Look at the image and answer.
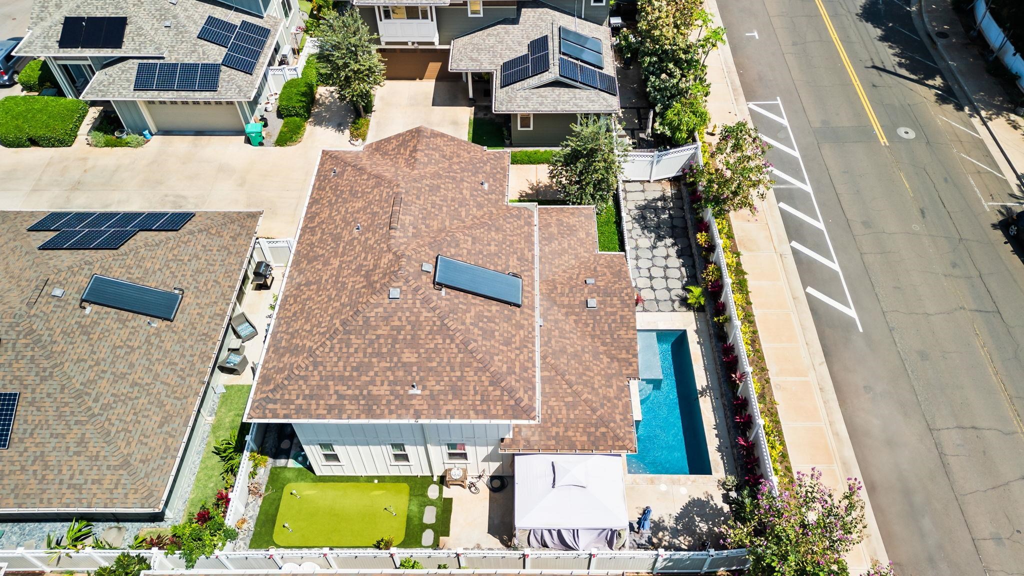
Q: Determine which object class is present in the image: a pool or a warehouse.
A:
pool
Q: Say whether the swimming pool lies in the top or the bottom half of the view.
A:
bottom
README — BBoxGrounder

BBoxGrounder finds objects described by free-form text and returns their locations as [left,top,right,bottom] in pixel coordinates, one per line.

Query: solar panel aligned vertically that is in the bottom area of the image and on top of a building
[0,392,22,446]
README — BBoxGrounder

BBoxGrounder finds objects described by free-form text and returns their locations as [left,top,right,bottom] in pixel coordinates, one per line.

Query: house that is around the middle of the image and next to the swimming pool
[240,124,645,482]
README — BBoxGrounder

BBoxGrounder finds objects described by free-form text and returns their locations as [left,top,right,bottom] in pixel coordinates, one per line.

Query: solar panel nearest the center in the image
[436,251,524,305]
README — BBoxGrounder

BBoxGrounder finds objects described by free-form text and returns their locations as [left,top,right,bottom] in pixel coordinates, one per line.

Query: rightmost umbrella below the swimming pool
[633,510,655,544]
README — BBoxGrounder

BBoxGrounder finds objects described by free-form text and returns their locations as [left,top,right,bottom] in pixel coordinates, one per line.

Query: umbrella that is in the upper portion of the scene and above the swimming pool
[641,108,654,147]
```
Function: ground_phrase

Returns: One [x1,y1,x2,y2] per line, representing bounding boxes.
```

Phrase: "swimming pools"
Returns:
[624,312,734,507]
